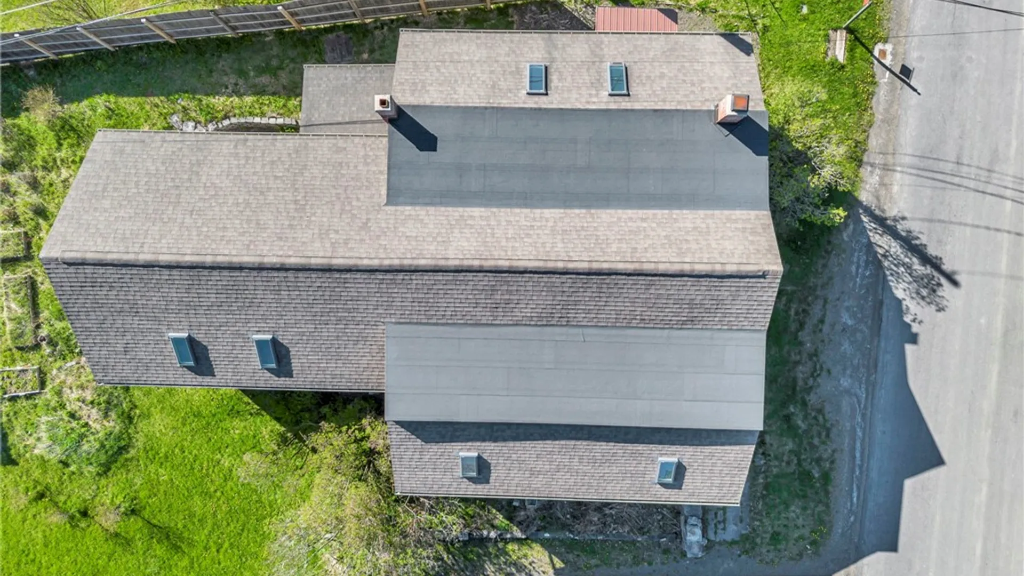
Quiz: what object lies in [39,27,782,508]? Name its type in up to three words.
house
